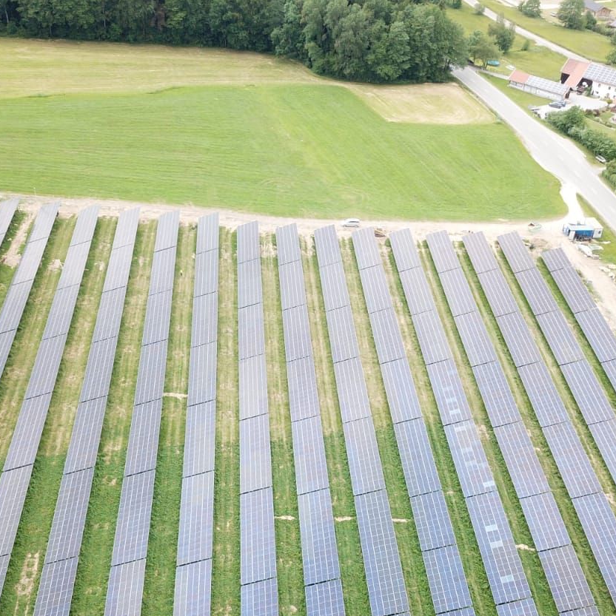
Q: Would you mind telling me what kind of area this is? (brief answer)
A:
solar farm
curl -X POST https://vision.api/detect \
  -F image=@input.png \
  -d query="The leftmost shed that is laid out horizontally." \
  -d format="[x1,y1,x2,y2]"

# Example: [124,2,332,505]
[510,74,572,103]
